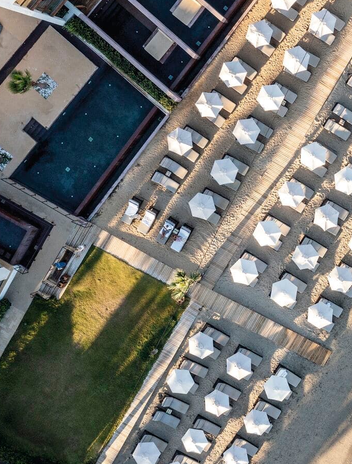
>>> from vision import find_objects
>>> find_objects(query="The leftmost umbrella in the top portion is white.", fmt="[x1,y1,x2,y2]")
[168,127,195,156]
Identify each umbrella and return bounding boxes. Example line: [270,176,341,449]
[286,47,314,76]
[234,120,260,147]
[300,143,330,171]
[277,179,307,207]
[190,193,218,218]
[246,405,274,436]
[195,91,223,121]
[290,240,318,267]
[226,350,255,379]
[220,58,246,88]
[309,10,338,37]
[230,256,257,285]
[335,168,352,195]
[180,425,209,455]
[189,330,216,360]
[212,158,242,184]
[255,222,283,249]
[203,391,232,417]
[263,373,292,402]
[168,127,195,156]
[307,299,337,328]
[328,264,352,293]
[168,368,198,397]
[269,277,299,306]
[224,445,250,464]
[257,83,286,111]
[246,19,275,47]
[313,206,341,231]
[135,438,161,464]
[268,0,295,12]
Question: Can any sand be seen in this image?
Yes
